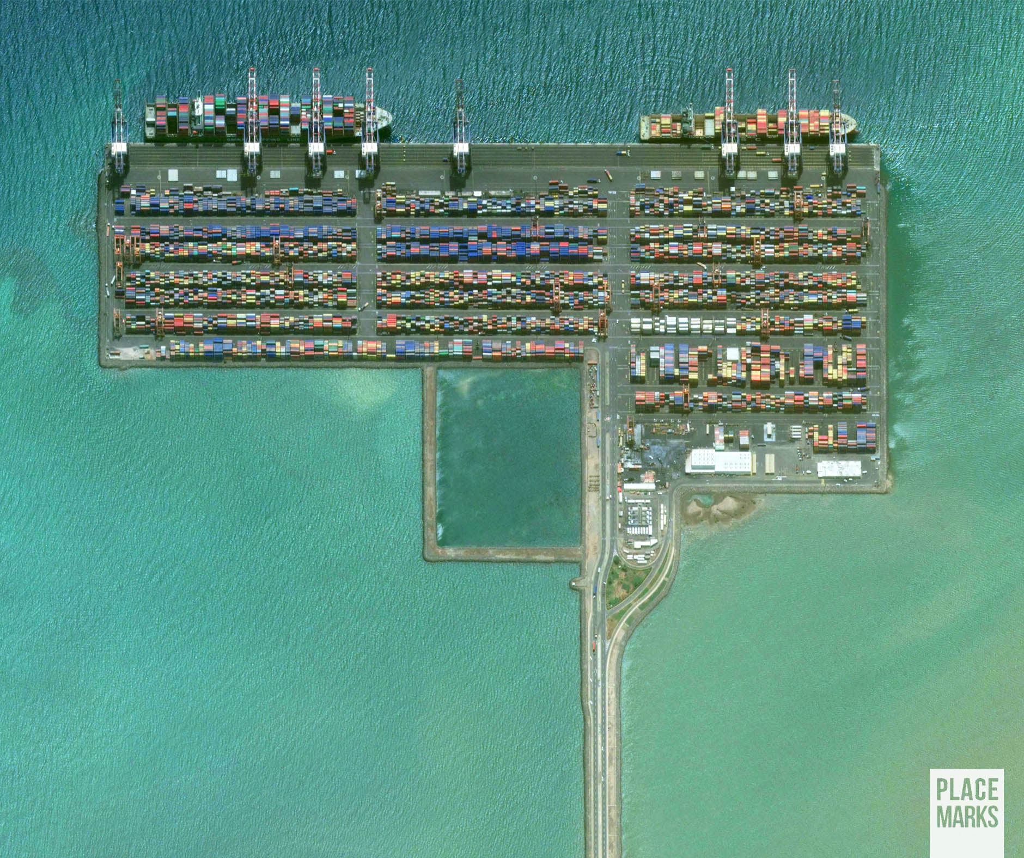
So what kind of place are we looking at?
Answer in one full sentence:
The picture captures a port.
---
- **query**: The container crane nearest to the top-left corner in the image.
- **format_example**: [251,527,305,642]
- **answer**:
[109,77,129,177]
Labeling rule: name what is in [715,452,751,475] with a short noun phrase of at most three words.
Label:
building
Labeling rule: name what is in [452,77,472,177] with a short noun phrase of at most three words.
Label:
container crane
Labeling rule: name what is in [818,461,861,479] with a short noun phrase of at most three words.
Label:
shed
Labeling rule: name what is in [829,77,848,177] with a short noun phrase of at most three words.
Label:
container crane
